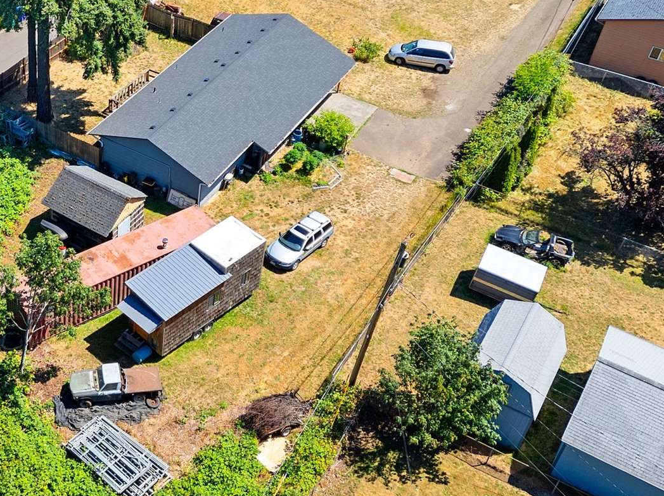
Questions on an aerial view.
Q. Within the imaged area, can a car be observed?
Yes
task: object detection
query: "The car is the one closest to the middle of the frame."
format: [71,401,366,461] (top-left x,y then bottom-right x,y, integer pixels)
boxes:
[267,207,335,270]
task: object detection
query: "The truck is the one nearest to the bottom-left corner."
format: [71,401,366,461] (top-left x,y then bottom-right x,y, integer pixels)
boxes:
[69,364,167,409]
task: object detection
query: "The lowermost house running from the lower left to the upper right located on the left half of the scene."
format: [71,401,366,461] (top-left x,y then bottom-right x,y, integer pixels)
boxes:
[115,215,266,365]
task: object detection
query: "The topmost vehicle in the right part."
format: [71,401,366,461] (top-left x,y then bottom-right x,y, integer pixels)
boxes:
[386,42,455,76]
